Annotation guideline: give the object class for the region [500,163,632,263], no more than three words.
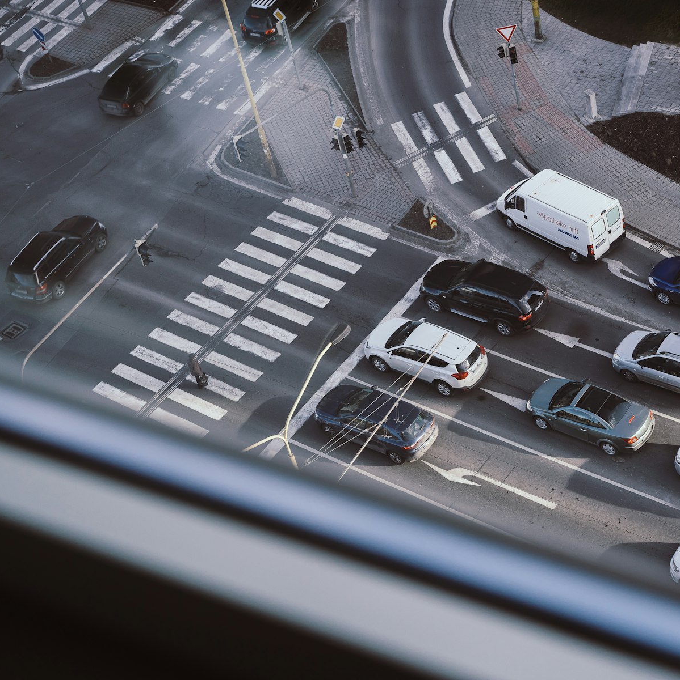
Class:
van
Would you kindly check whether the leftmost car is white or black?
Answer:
black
